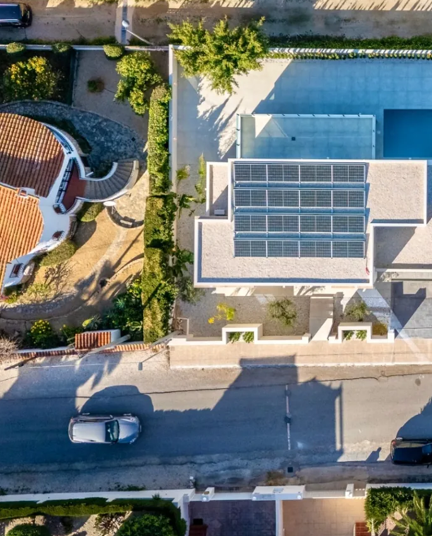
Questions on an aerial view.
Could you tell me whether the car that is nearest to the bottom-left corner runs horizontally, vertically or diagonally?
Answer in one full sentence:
I'd say the car that is nearest to the bottom-left corner is aligned horizontally in the picture.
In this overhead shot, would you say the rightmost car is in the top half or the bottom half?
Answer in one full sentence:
It is in the bottom half that the rightmost car appears.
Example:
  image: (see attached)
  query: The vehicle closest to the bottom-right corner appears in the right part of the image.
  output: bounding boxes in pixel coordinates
[392,437,432,468]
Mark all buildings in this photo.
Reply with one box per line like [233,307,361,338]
[75,325,130,350]
[0,113,150,296]
[196,113,432,286]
